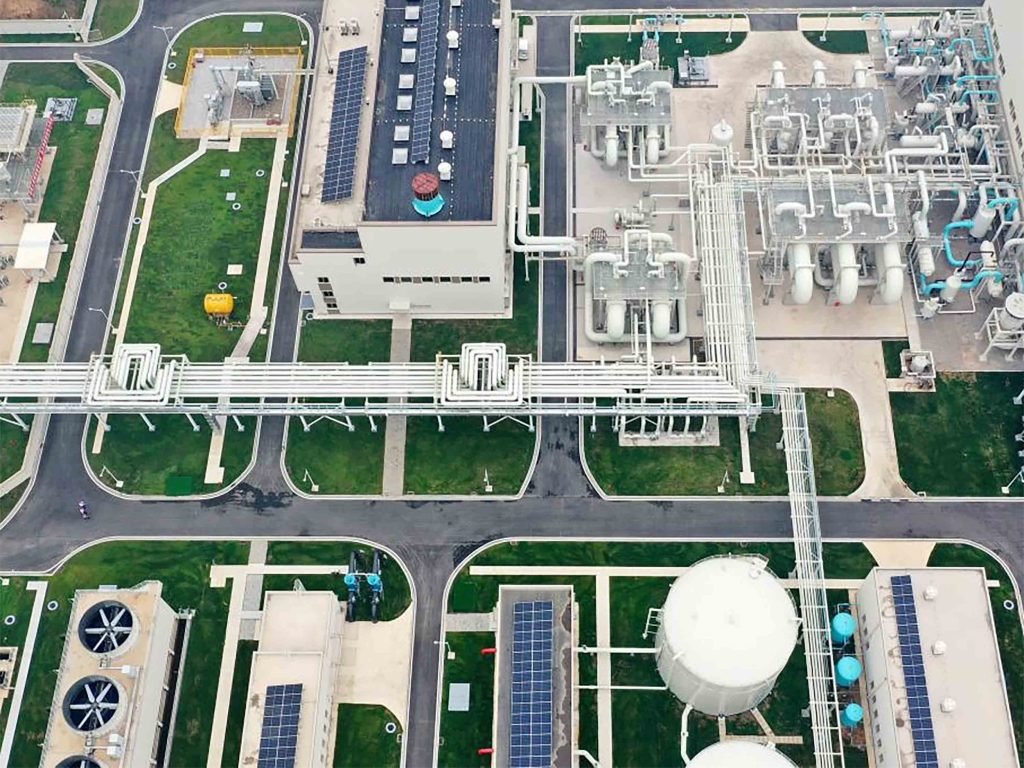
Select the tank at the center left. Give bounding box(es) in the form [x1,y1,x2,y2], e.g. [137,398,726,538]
[202,293,247,323]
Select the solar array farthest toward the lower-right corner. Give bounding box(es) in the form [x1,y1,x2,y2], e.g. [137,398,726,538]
[890,574,938,768]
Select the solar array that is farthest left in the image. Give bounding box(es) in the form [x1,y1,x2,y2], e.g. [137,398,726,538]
[257,684,303,768]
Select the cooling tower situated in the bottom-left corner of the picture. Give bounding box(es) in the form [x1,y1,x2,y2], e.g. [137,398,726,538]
[35,582,204,768]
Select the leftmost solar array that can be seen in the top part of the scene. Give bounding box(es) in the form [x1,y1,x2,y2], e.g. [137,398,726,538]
[323,46,368,201]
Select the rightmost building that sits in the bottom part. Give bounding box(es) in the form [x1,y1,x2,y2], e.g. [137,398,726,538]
[859,569,1019,768]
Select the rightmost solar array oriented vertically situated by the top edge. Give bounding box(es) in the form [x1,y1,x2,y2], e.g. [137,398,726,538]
[412,0,441,162]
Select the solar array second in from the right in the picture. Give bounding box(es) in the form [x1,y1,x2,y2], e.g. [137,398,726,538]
[509,602,552,768]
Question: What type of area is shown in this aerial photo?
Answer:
industrial area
